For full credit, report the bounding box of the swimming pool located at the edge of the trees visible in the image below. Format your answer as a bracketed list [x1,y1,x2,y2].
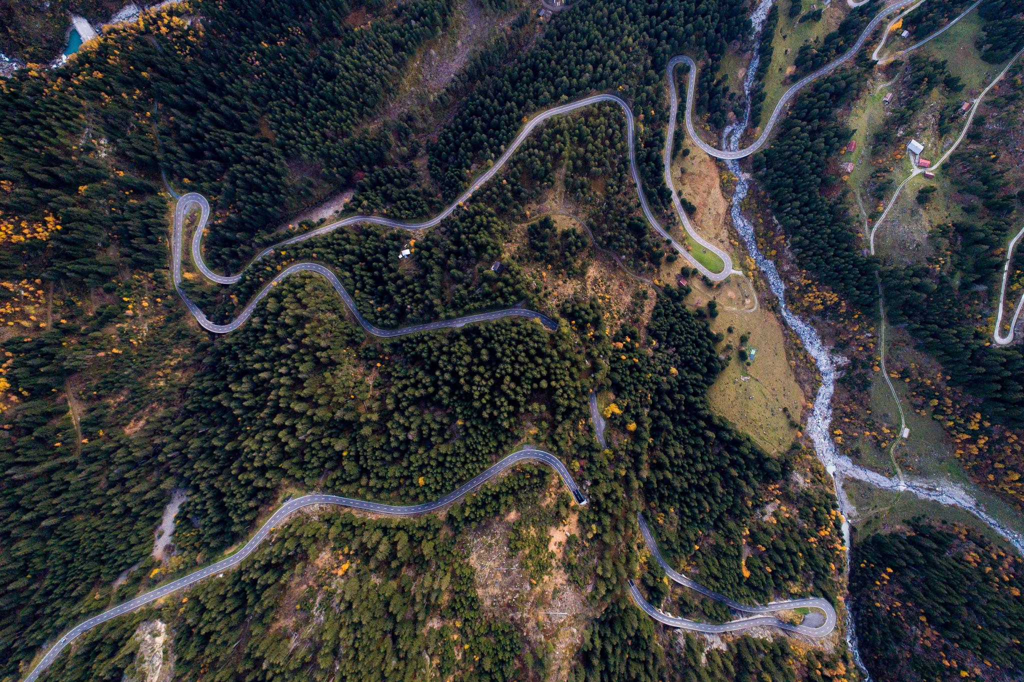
[63,28,83,55]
